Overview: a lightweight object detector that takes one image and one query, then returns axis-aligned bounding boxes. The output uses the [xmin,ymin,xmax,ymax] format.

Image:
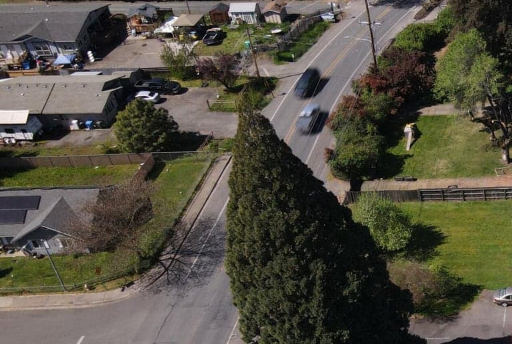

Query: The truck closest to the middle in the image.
[297,103,324,126]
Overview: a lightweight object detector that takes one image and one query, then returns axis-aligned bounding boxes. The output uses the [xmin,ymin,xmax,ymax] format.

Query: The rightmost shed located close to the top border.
[258,0,289,24]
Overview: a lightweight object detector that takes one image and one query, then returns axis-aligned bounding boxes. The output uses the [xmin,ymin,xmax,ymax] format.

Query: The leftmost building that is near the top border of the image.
[0,9,133,64]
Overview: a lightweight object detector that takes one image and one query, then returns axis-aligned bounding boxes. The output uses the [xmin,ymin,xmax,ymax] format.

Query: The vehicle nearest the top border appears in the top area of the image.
[196,28,226,46]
